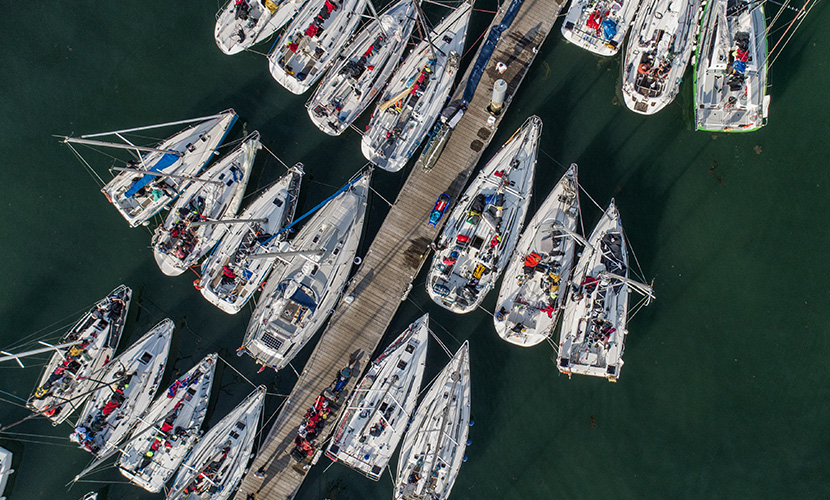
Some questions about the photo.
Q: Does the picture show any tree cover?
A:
No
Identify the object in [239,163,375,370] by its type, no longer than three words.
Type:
boat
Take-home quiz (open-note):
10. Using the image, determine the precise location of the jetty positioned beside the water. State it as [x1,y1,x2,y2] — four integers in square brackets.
[234,0,567,500]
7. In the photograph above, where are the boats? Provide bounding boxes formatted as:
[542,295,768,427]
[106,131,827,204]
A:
[496,163,600,348]
[0,284,135,421]
[432,113,539,314]
[558,197,662,378]
[71,353,220,492]
[0,318,178,455]
[624,0,708,114]
[239,163,375,370]
[327,313,430,475]
[313,0,420,130]
[365,0,476,169]
[400,340,473,500]
[693,0,813,132]
[563,0,649,54]
[103,128,262,276]
[163,382,267,500]
[271,0,366,91]
[182,159,303,310]
[220,0,308,52]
